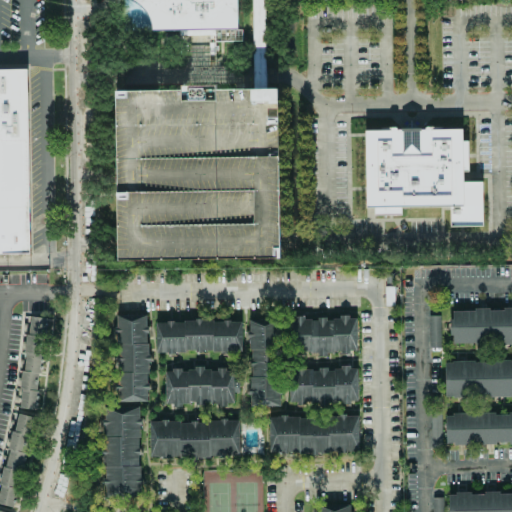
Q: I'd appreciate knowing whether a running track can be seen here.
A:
No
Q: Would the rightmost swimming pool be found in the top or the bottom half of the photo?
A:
bottom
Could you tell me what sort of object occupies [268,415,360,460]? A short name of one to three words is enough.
building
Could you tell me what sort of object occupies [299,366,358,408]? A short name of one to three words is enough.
building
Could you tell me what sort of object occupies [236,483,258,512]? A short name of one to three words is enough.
tennis court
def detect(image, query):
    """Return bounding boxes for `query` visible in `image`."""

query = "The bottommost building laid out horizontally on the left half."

[150,418,241,460]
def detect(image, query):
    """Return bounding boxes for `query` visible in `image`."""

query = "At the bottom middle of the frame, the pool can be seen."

[241,425,264,452]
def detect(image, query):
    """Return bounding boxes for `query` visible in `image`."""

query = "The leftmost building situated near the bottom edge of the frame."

[0,410,32,508]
